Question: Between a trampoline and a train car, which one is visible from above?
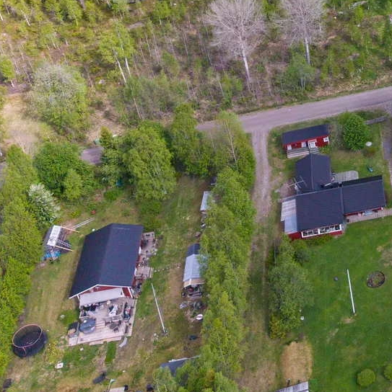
trampoline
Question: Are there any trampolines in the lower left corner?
Yes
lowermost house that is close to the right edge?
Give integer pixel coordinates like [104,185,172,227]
[278,154,386,244]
